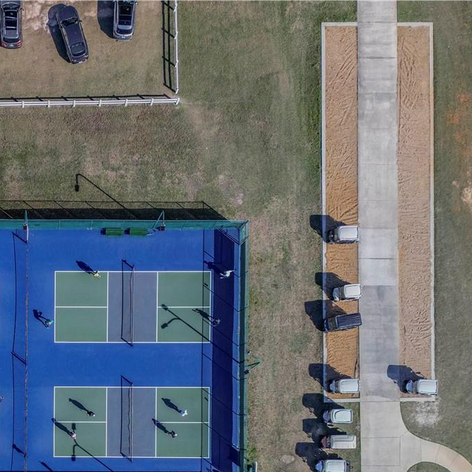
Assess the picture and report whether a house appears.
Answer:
No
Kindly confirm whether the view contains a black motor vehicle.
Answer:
Yes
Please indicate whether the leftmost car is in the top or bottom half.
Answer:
top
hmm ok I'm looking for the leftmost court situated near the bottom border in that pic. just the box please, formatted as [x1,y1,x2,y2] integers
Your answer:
[53,386,210,458]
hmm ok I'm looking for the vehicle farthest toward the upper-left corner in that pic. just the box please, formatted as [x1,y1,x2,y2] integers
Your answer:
[1,0,25,50]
